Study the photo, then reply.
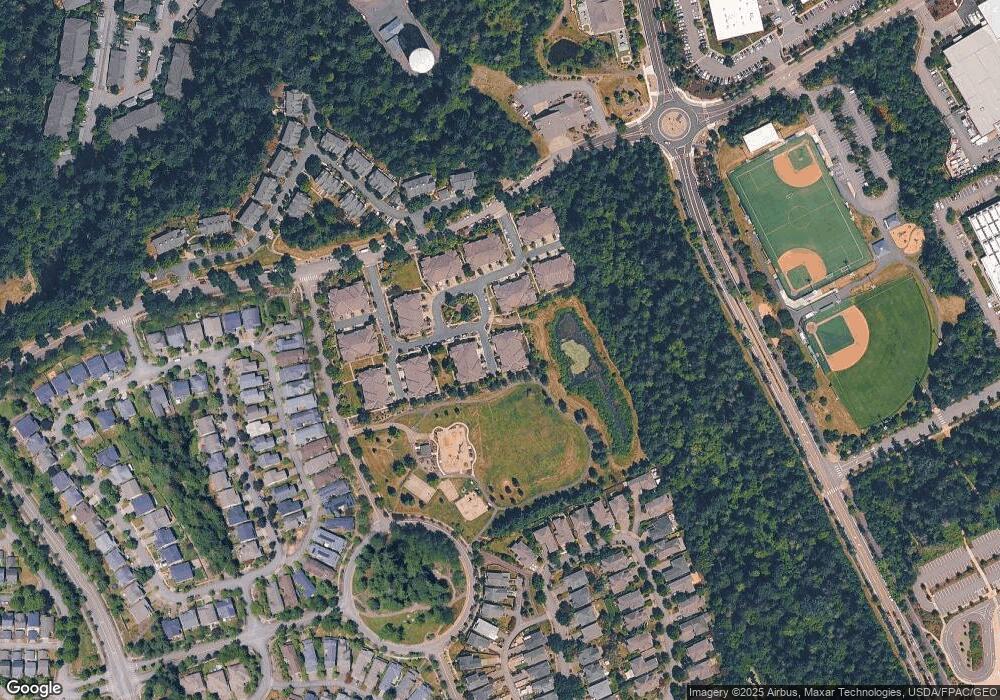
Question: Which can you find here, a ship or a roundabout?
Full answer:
Visible in the photo is a roundabout.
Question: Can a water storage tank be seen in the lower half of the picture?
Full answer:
No, I can find no water storage tank in the lower half of the picture.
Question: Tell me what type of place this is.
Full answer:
It's a residential area.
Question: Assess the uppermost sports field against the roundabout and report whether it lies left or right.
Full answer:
The roundabout has the uppermost sports field on its right side.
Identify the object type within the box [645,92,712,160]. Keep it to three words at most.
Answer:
roundabout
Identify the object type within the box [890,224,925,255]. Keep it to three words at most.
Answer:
playground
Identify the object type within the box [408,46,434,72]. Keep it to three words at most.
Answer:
water tank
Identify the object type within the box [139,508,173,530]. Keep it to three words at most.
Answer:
house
